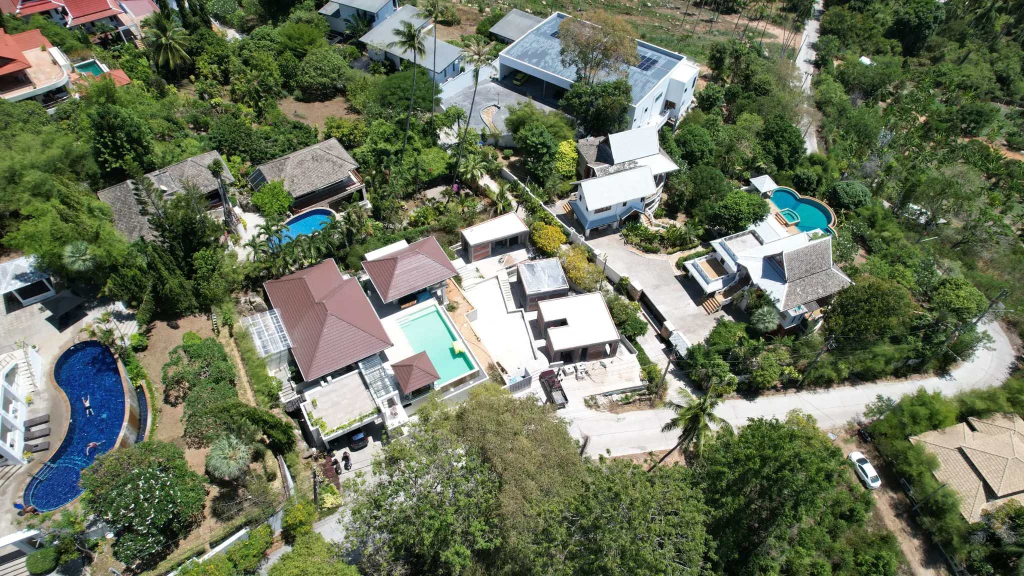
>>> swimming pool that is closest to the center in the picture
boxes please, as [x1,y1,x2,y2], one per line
[397,299,476,406]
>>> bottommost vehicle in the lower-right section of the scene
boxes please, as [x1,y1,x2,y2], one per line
[843,452,886,494]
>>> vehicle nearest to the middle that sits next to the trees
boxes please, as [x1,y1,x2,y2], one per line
[538,372,572,410]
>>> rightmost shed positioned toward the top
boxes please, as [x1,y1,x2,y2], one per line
[900,203,939,230]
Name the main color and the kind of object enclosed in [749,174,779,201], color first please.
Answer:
white gazebo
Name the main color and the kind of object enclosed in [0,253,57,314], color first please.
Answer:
white gazebo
